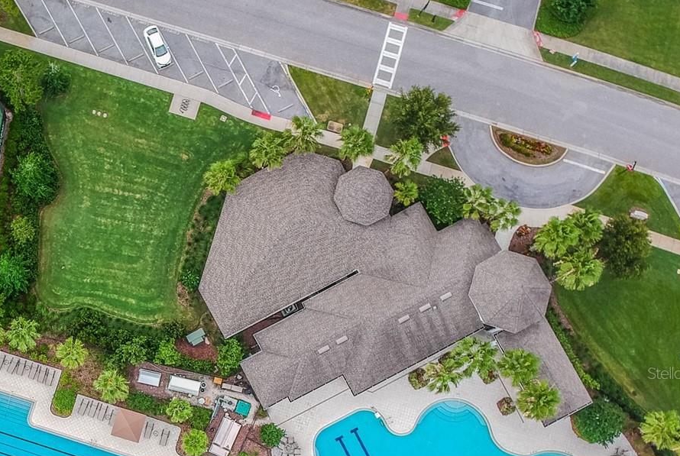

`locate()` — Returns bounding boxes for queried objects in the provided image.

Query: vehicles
[142,21,173,70]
